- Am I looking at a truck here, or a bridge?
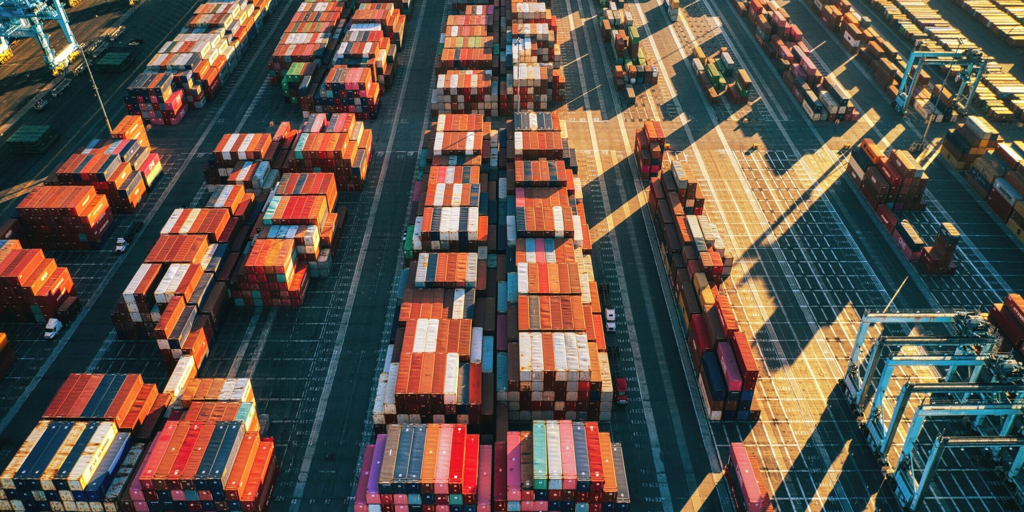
truck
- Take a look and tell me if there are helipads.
No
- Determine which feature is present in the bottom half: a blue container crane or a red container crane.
blue container crane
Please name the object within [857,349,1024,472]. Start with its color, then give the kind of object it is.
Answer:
blue container crane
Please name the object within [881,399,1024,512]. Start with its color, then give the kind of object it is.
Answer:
blue container crane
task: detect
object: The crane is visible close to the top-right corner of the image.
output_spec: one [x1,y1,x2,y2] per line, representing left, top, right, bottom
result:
[893,44,997,118]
